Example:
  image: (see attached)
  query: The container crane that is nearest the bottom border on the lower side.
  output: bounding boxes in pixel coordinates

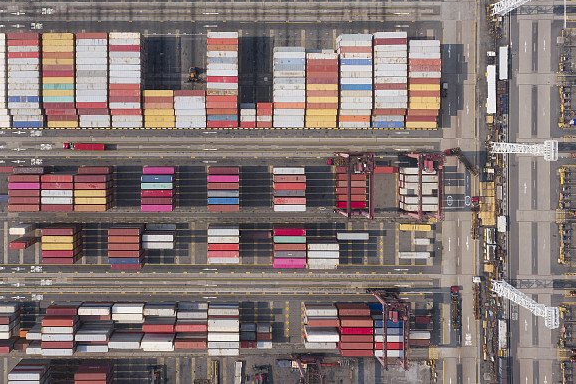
[289,357,325,384]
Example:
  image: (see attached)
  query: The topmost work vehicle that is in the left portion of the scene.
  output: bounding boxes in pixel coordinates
[185,64,200,87]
